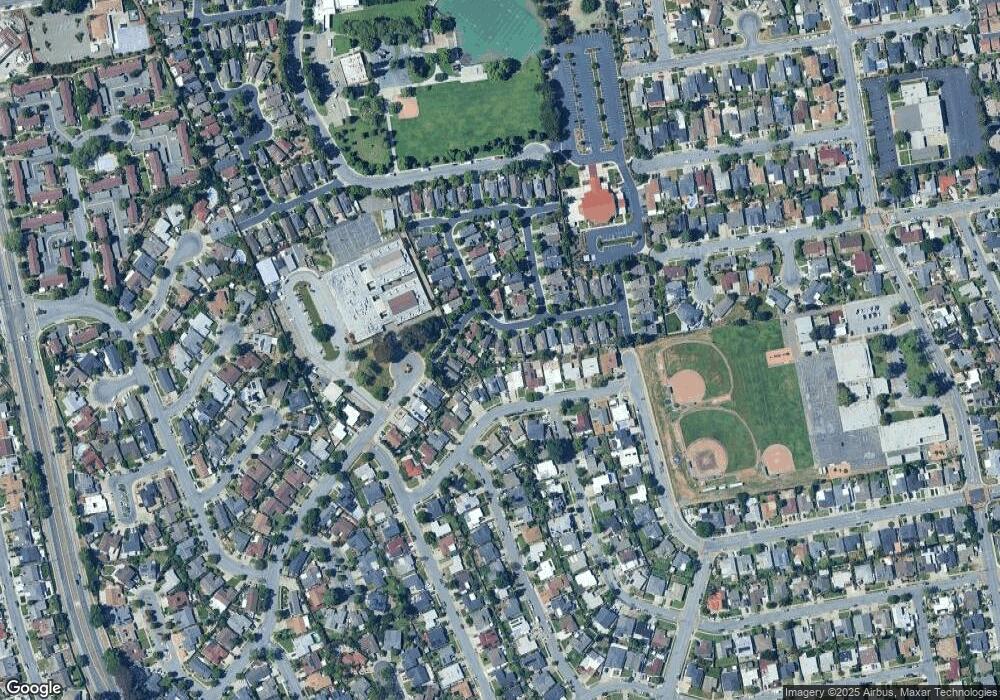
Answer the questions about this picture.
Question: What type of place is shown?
residential area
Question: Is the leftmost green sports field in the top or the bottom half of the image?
top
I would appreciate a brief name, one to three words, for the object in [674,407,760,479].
baseball field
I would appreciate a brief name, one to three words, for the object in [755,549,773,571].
house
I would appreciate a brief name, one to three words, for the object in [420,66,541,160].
sports field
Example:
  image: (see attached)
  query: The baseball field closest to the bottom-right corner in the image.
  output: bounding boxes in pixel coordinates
[763,444,795,475]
